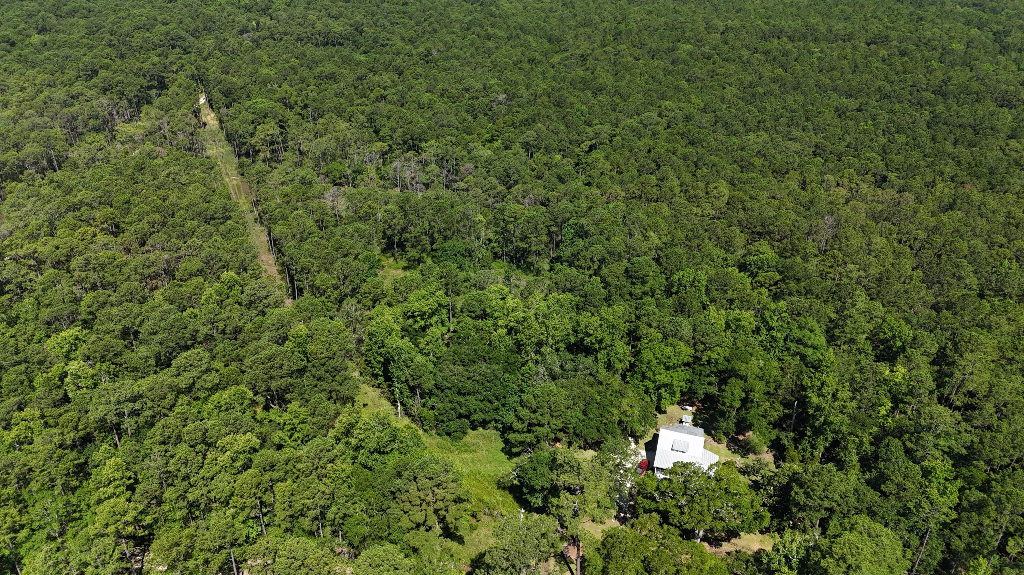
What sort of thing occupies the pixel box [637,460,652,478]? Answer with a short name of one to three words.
vehicle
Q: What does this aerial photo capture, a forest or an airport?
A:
forest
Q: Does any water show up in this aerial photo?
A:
No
